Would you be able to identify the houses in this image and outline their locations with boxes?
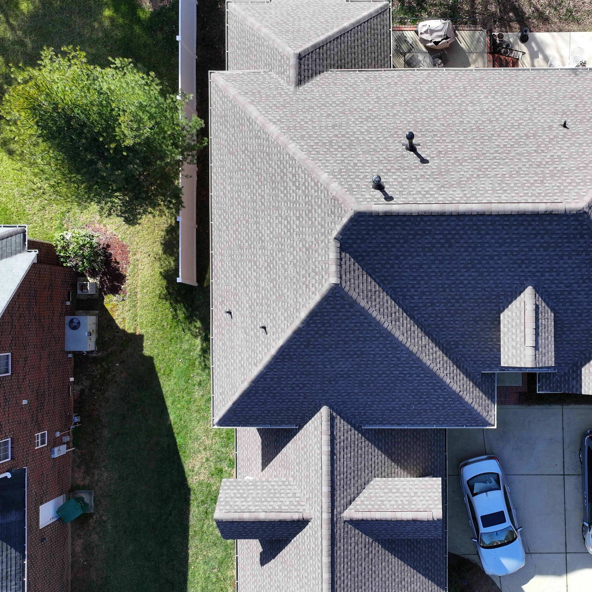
[0,221,75,592]
[206,0,592,592]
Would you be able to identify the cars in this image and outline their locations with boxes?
[579,431,592,553]
[460,453,527,577]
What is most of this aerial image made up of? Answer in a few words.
buildings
